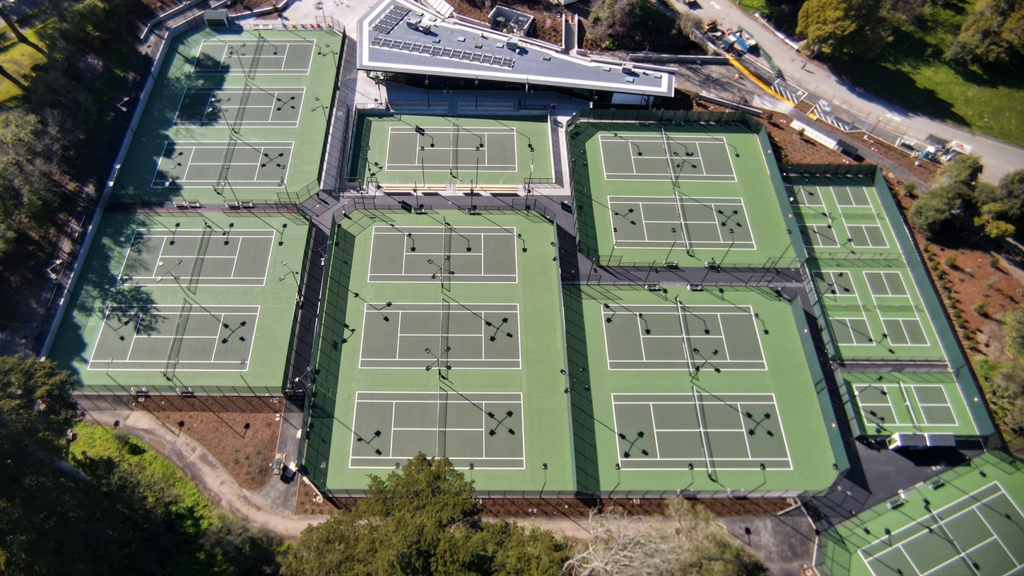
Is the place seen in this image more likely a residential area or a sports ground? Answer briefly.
sports ground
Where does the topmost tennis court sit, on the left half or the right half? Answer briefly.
left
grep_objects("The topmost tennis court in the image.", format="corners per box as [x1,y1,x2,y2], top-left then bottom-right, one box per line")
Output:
[191,38,316,75]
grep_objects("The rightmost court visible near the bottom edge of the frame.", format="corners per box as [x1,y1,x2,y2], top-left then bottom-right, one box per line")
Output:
[857,480,1024,576]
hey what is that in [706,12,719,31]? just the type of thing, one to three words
vehicle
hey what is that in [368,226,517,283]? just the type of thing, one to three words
tennis court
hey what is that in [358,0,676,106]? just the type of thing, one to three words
building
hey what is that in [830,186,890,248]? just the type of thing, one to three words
sports court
